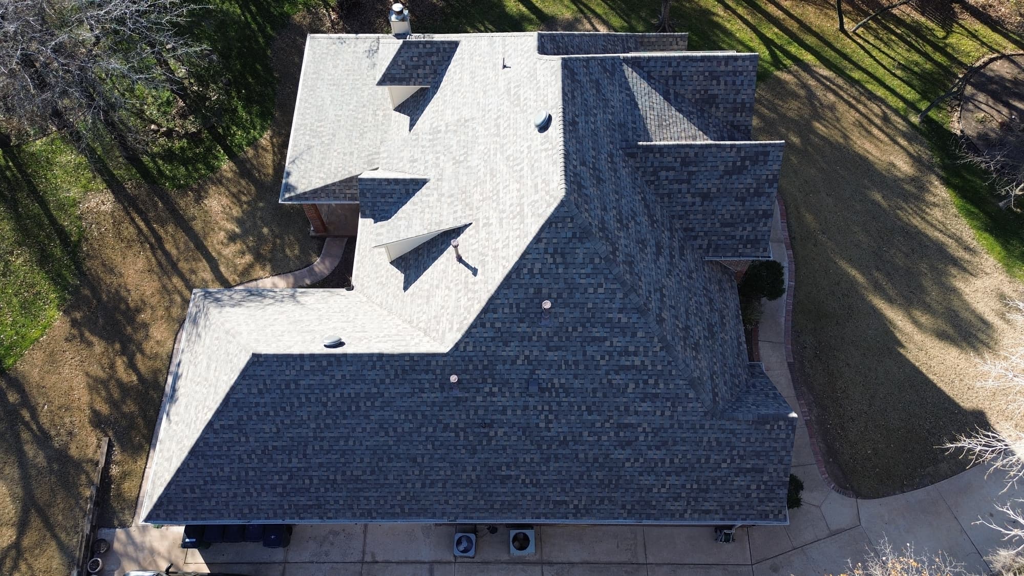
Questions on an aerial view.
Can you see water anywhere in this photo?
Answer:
No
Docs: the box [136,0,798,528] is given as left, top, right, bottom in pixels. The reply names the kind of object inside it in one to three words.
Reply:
house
